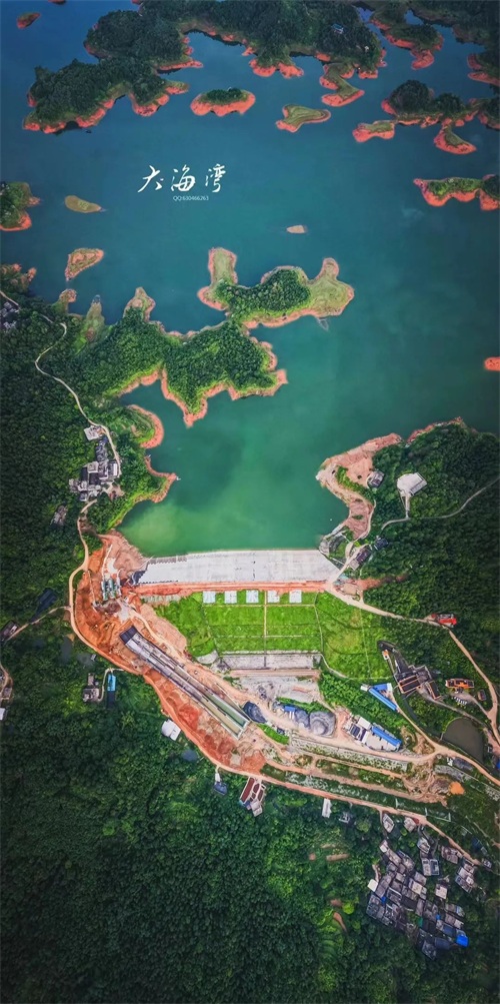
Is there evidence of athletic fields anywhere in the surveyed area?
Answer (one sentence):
No, the photo shows no athletic field.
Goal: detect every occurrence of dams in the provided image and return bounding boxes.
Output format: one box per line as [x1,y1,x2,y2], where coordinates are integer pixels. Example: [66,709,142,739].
[137,549,340,654]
